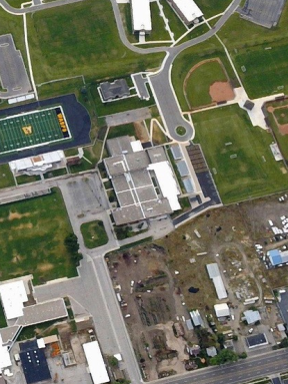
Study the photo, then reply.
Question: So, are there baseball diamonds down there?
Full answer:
Yes, I can see a baseball diamond in this picture.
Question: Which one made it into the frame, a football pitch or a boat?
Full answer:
This aerial view contains a football pitch.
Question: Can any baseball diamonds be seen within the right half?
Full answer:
Yes, I can see a baseball diamond within the right half.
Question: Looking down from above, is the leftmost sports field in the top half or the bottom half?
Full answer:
You can find the leftmost sports field in the top half.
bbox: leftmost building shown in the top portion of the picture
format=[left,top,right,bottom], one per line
[99,78,130,101]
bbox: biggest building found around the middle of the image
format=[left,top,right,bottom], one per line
[103,135,181,228]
